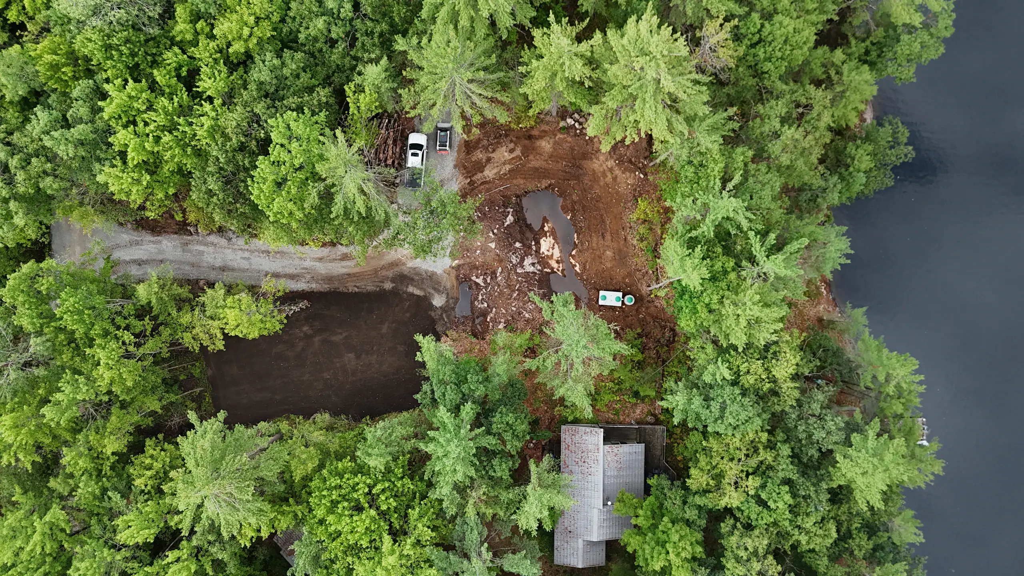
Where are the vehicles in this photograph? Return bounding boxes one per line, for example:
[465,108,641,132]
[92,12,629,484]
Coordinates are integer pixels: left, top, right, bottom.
[435,124,453,154]
[404,132,428,192]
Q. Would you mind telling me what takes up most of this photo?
trees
